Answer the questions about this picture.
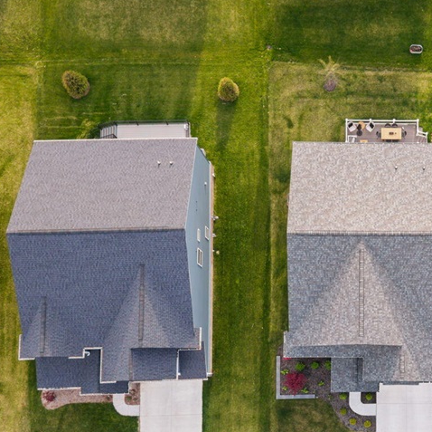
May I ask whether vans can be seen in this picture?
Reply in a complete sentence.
No, there appears to be no van in this shot.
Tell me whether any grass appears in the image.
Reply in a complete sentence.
Yes, grass can be seen from above here.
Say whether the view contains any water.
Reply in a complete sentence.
No, no water is visible.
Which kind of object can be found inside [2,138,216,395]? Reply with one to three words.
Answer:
house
